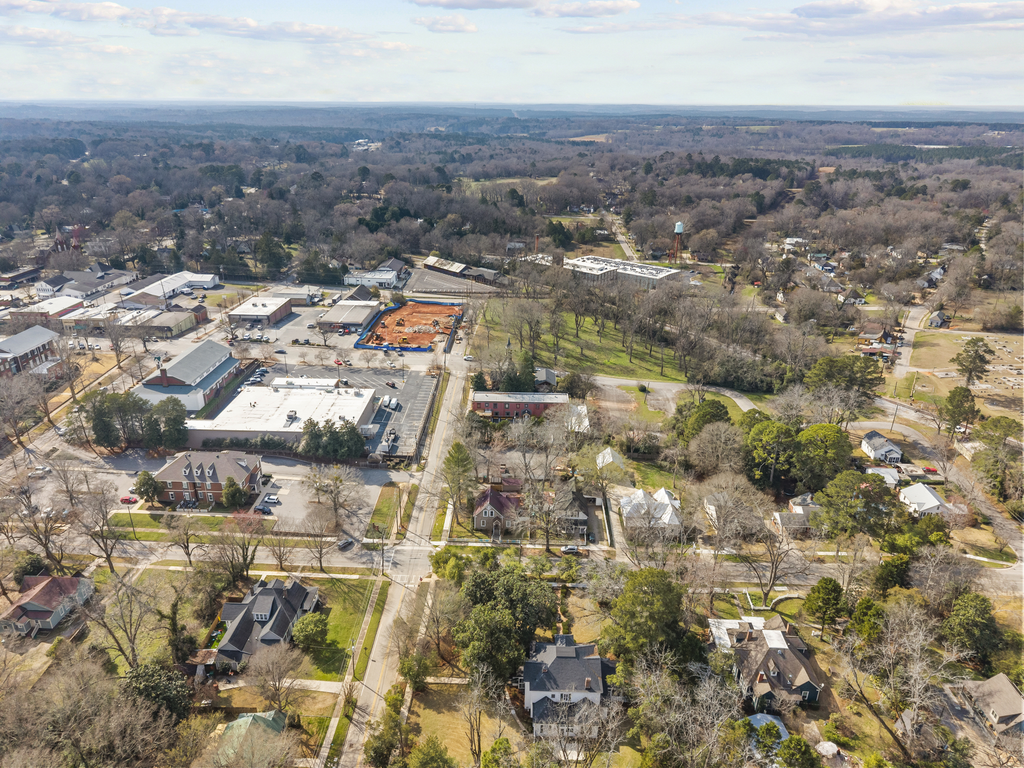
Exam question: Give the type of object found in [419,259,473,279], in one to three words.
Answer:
building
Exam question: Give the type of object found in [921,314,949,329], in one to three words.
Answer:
house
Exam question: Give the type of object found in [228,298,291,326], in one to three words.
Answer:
building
